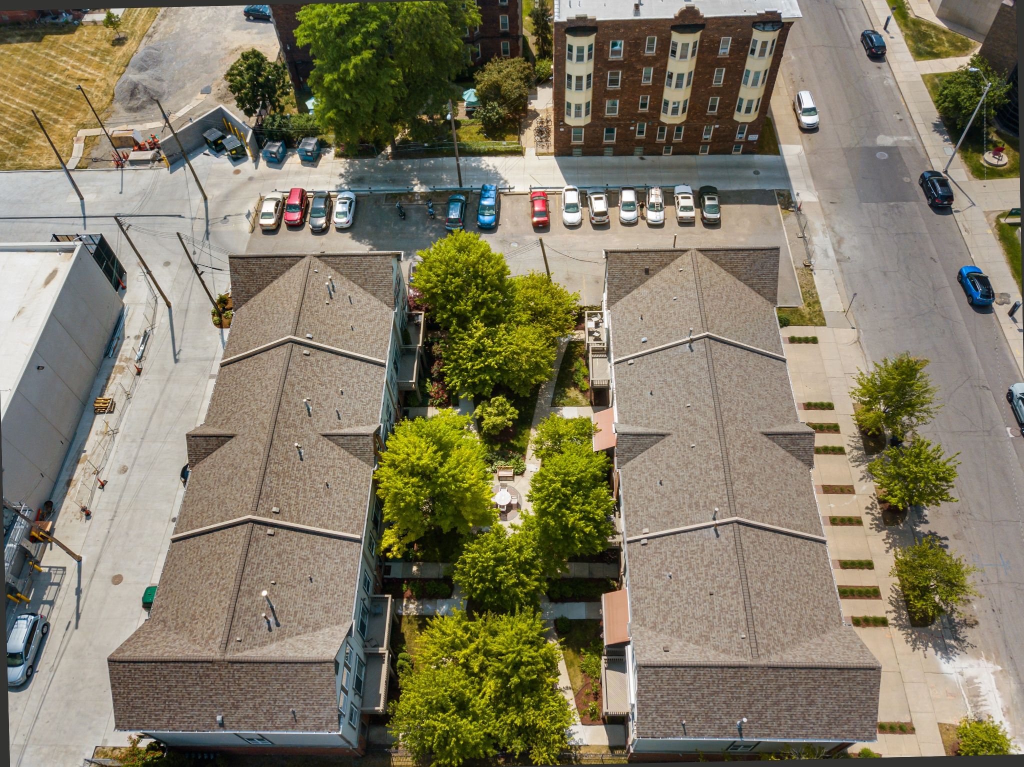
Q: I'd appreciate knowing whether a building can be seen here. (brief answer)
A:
Yes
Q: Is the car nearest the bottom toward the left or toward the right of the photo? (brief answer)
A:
left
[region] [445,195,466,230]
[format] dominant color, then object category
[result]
blue car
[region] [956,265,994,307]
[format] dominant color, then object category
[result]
blue car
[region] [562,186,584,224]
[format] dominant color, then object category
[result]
white car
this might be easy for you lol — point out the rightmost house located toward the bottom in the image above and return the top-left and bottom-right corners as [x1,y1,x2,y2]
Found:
[585,233,881,761]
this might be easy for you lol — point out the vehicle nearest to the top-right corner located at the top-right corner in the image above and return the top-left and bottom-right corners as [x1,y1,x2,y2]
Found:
[861,29,887,57]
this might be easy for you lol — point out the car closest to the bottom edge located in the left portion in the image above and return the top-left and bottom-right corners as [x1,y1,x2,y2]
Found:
[2,610,49,687]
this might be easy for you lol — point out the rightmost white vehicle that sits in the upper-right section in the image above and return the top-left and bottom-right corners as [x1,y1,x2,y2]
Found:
[795,93,820,129]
